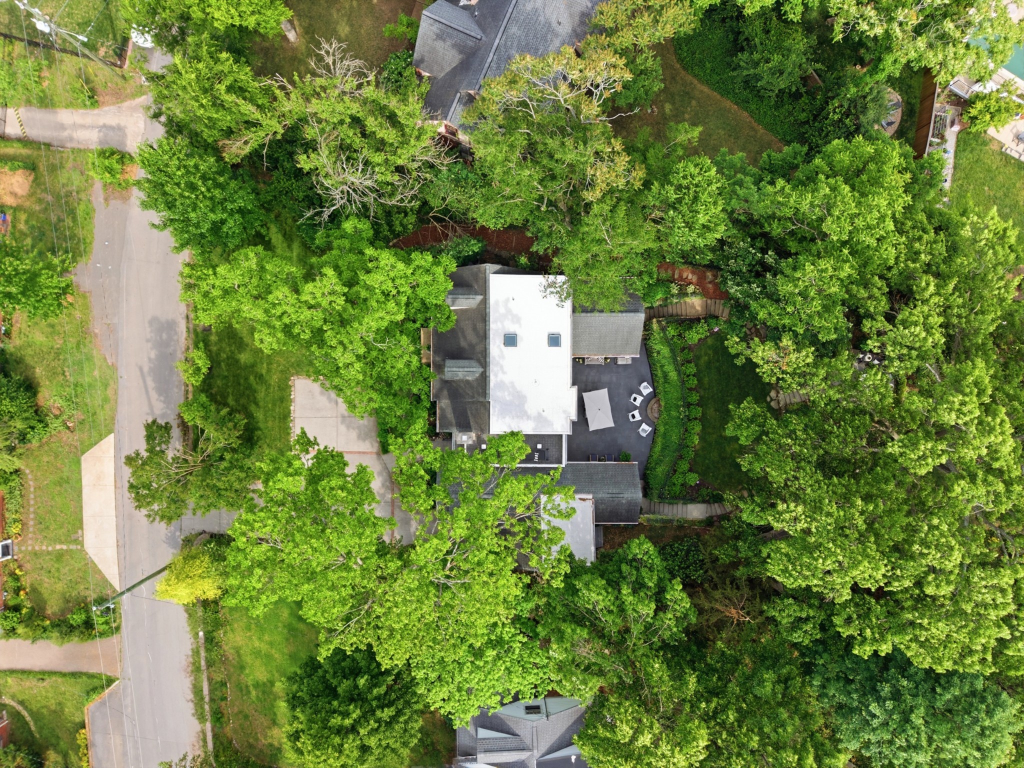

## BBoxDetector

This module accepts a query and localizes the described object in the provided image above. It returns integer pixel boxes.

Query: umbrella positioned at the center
[582,388,614,431]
